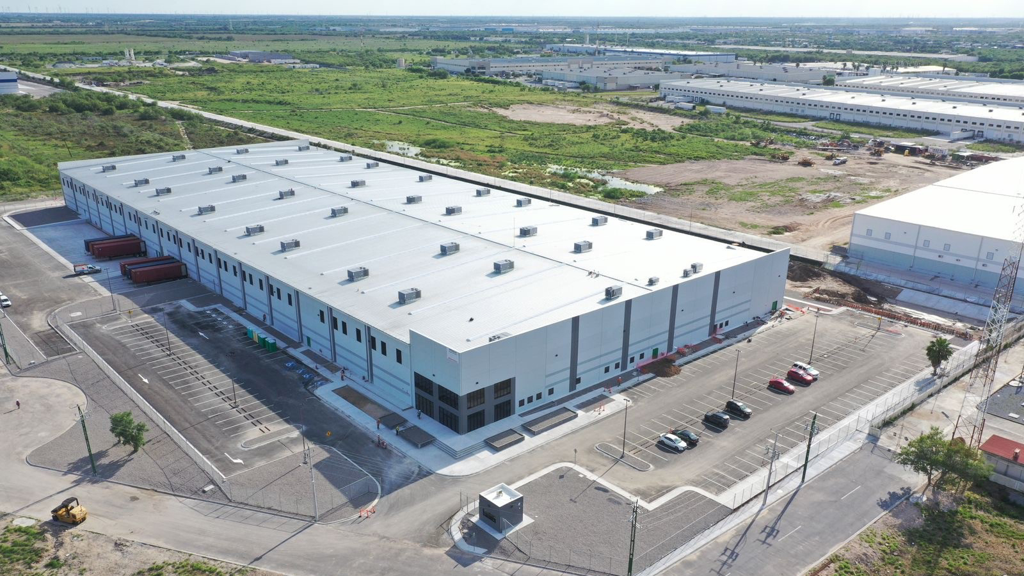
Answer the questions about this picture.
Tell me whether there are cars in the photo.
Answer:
Yes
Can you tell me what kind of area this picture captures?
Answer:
industrial area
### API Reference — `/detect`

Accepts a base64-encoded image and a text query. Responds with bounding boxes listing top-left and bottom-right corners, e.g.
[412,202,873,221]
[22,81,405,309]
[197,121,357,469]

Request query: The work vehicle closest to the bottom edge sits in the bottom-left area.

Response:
[47,495,88,524]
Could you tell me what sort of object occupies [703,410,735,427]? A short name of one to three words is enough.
car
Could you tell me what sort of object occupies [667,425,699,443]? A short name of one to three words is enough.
car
